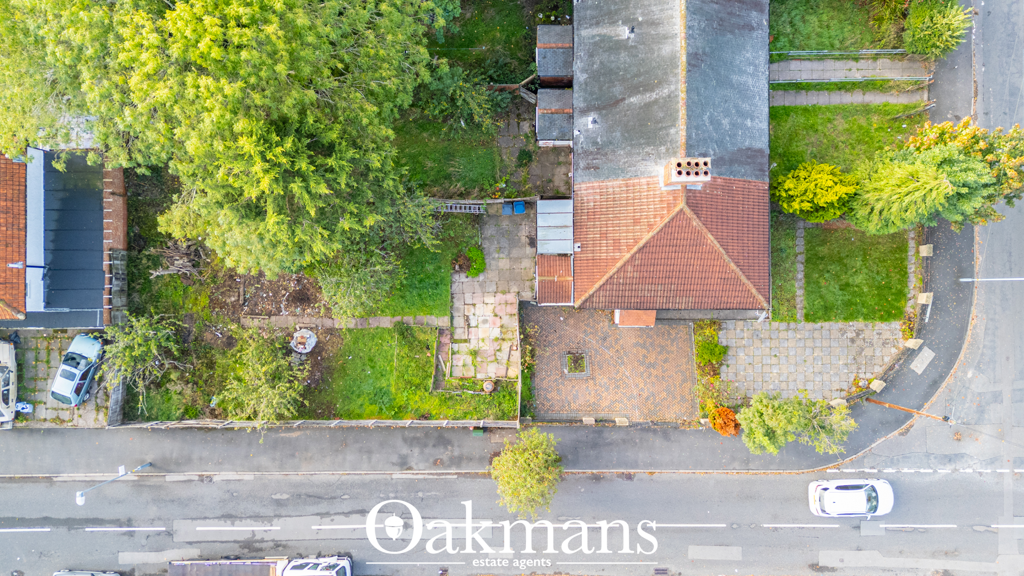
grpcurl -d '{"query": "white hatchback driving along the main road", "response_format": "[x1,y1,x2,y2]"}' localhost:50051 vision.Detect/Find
[805,475,888,518]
